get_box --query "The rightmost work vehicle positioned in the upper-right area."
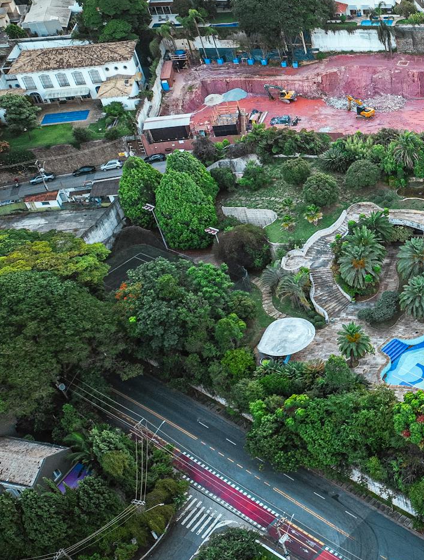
[348,94,377,120]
